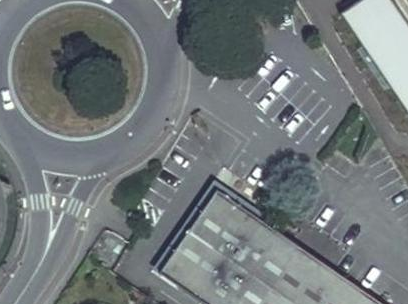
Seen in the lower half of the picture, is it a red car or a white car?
white car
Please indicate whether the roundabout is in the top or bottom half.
top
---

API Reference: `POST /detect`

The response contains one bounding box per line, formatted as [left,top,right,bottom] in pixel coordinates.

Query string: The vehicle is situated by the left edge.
[0,88,13,109]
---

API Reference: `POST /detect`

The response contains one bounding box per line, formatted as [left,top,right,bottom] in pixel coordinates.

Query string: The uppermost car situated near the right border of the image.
[391,189,408,206]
